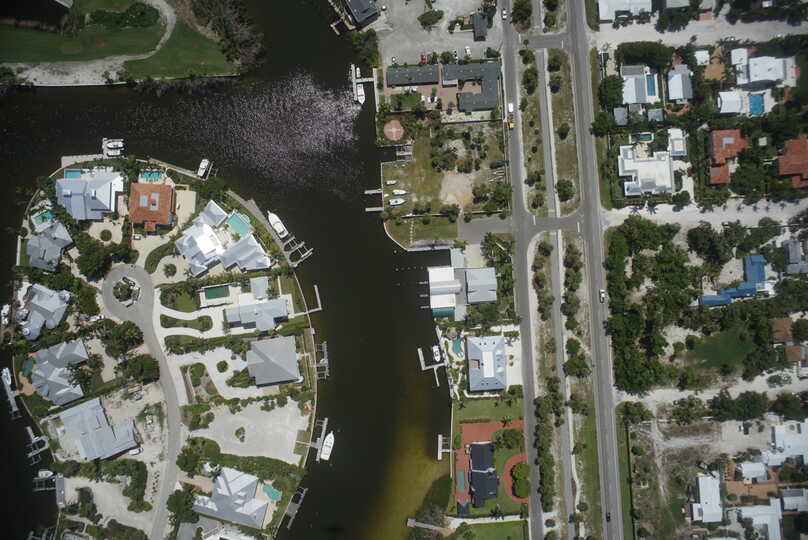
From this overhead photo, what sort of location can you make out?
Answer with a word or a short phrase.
residential area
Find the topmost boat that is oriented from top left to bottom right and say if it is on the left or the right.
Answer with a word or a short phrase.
left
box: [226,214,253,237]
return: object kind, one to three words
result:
swimming pool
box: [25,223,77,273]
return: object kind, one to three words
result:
house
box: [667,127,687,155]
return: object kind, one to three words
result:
building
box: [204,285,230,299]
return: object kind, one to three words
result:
swimming pool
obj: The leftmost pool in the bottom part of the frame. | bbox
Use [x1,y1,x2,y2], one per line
[21,358,34,377]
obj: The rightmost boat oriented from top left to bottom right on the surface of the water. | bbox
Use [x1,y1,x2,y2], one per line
[269,214,289,239]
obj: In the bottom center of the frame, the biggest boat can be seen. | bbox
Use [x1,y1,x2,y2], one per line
[320,433,333,462]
